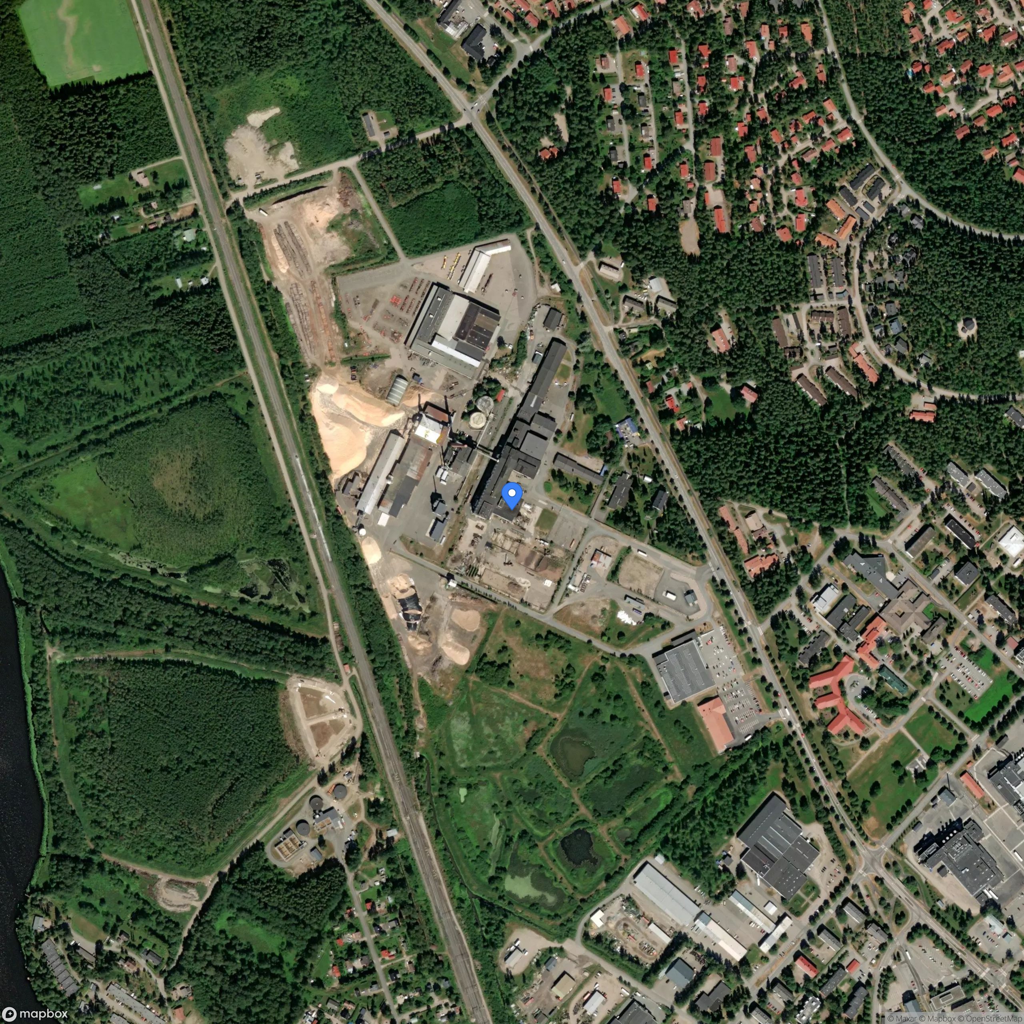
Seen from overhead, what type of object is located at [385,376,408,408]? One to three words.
shed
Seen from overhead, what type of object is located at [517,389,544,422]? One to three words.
building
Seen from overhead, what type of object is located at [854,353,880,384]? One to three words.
house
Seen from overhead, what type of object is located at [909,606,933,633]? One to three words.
building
